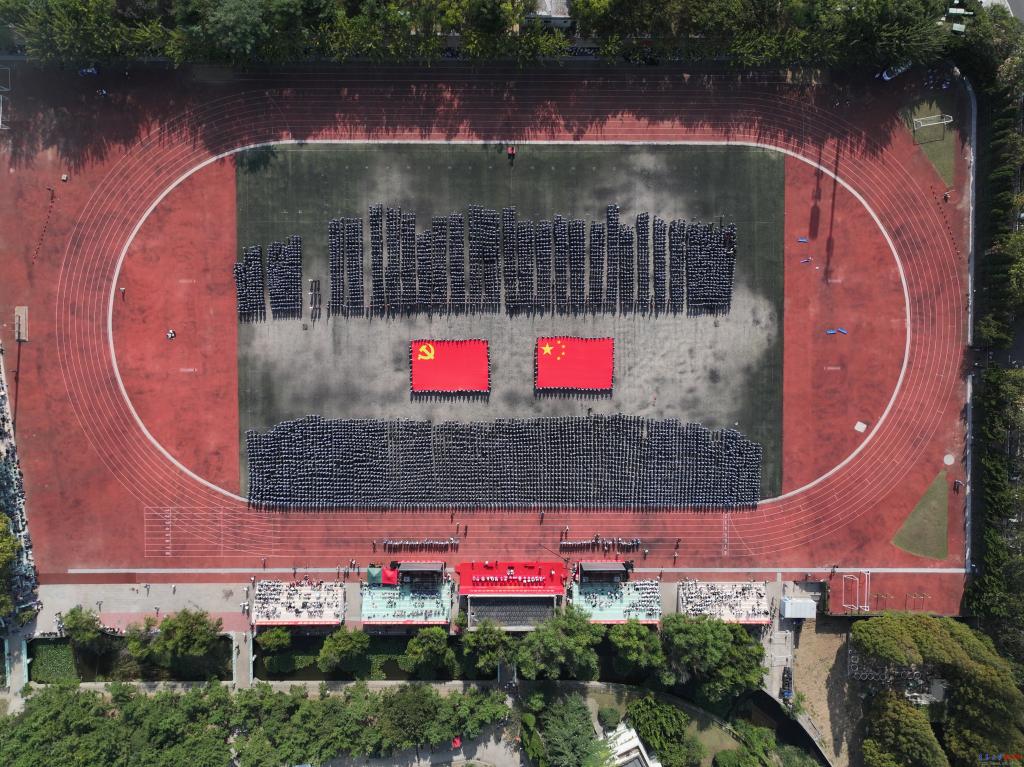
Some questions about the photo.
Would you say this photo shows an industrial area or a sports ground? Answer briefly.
sports ground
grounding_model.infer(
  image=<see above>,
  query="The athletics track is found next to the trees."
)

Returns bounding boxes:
[58,81,961,558]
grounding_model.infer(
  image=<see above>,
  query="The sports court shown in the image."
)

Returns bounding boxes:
[829,574,966,617]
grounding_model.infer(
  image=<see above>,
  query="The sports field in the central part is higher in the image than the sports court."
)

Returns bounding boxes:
[111,144,907,504]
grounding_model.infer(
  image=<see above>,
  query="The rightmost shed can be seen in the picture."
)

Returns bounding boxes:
[920,672,946,701]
